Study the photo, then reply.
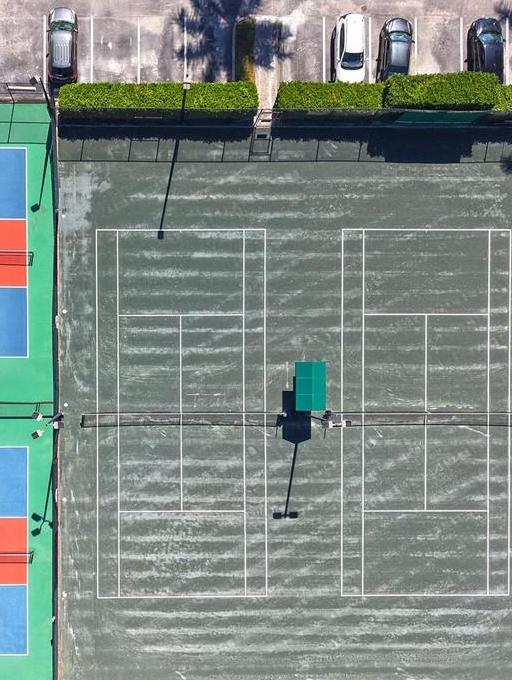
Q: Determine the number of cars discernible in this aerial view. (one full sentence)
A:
Looking from above, you can make out 4 cars.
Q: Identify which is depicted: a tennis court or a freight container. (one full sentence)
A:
This aerial view contains a tennis court.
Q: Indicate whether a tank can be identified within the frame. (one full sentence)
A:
No, this view has no tank in it.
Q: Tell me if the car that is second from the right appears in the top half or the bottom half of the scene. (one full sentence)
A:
The car that is second from the right sits in the top half of the picture.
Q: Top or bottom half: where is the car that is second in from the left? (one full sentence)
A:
The top half of the photo is where the car that is second in from the left is.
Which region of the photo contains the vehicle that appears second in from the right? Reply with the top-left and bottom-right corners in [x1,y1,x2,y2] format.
[377,19,415,82]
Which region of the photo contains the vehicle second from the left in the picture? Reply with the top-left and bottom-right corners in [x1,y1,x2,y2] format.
[330,13,368,85]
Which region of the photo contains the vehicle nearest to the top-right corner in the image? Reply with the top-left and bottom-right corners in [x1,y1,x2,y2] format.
[466,17,507,88]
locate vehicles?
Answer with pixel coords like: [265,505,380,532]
[466,17,507,88]
[45,8,81,87]
[377,19,415,82]
[330,13,368,85]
